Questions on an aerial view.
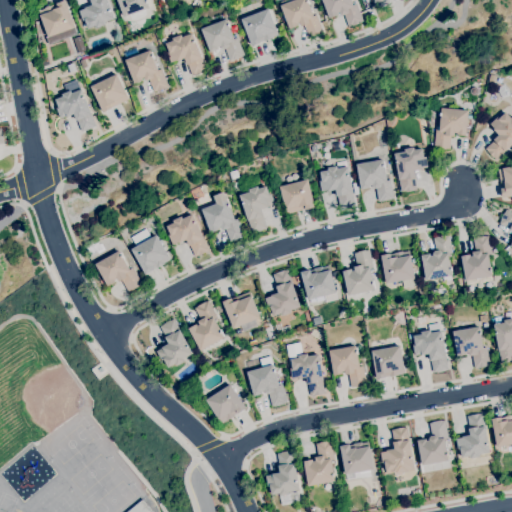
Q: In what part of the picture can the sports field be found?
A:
bottom left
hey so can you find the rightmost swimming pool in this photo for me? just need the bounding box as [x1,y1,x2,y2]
[204,374,224,390]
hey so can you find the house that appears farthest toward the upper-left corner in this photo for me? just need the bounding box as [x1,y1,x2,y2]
[39,0,78,44]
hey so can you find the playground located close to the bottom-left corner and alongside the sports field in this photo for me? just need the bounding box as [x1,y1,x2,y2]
[2,446,57,502]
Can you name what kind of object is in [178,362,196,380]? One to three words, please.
swimming pool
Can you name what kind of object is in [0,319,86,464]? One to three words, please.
sports field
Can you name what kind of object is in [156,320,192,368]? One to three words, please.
house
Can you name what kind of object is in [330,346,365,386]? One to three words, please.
house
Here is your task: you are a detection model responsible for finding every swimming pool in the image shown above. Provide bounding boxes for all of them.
[204,374,224,390]
[120,48,139,60]
[178,362,196,380]
[92,38,113,48]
